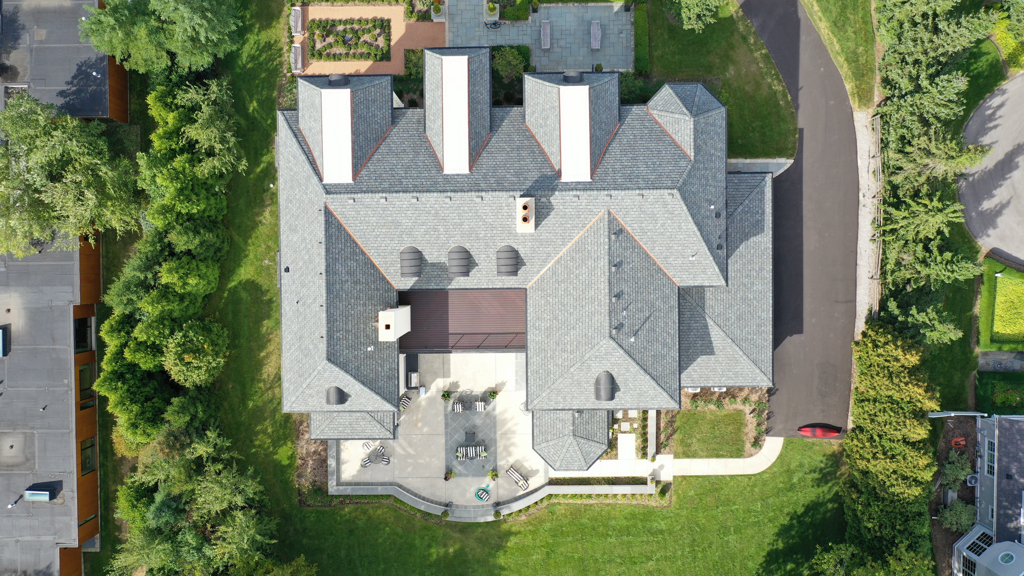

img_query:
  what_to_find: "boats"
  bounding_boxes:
[798,426,842,439]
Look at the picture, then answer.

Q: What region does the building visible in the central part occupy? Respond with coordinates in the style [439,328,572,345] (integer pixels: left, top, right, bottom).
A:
[274,46,775,472]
